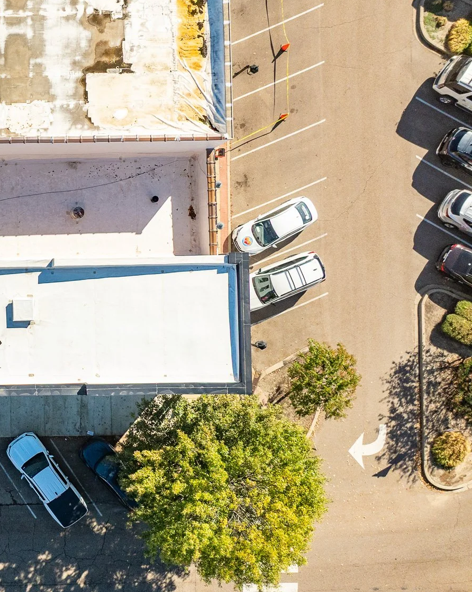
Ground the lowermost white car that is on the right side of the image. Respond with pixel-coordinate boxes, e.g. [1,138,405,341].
[250,250,328,310]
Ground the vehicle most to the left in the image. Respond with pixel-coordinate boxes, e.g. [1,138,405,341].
[7,430,90,531]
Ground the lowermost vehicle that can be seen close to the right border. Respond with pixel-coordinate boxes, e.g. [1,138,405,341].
[430,244,472,299]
